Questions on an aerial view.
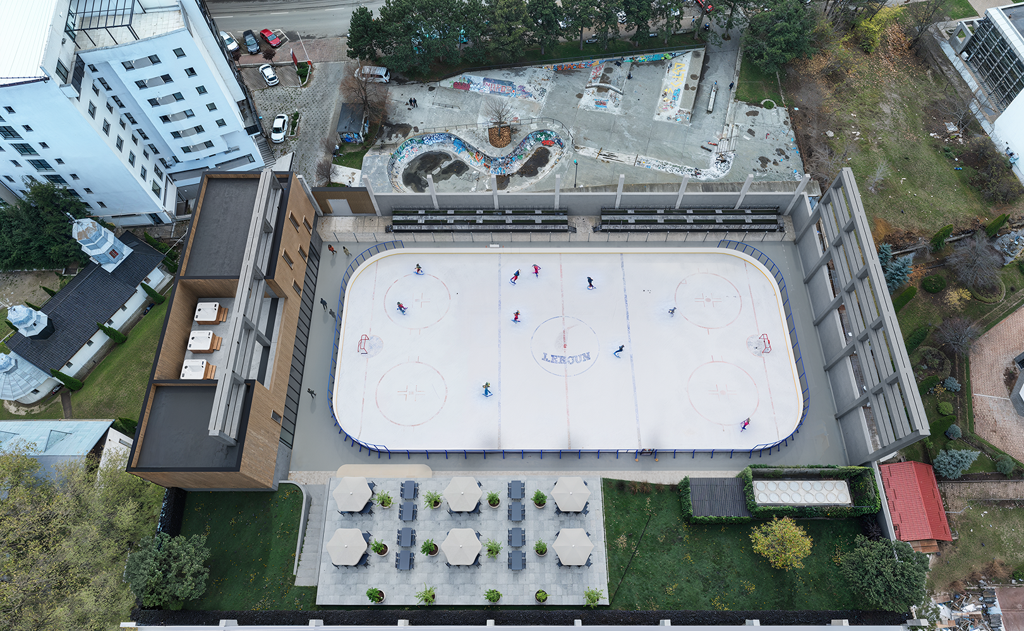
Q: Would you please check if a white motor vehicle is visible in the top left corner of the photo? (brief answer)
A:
Yes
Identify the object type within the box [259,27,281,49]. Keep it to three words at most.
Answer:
car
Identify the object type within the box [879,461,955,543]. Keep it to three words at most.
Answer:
shed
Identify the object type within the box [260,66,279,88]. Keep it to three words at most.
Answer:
car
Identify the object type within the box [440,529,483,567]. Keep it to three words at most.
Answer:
umbrella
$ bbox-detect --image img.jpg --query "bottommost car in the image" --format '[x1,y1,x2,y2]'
[270,116,290,142]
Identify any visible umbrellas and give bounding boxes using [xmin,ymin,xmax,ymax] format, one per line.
[332,478,374,513]
[327,529,370,567]
[550,477,591,513]
[440,529,483,567]
[551,528,594,567]
[443,477,484,513]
